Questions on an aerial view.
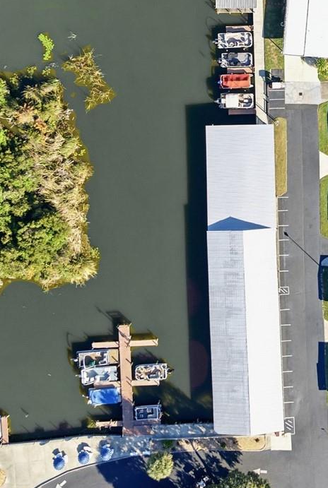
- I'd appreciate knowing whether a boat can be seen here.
Yes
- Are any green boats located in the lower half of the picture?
No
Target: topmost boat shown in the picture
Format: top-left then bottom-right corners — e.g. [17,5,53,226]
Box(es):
[214,32,254,47]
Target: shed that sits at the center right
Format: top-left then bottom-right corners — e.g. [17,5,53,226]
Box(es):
[205,124,284,435]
